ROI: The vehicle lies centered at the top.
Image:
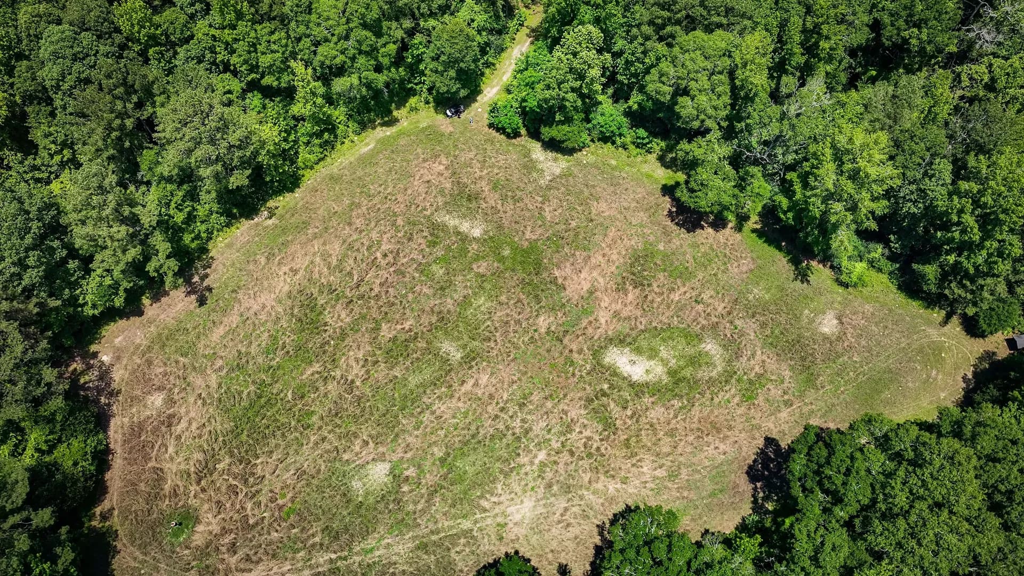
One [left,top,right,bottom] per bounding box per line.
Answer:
[445,104,467,118]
